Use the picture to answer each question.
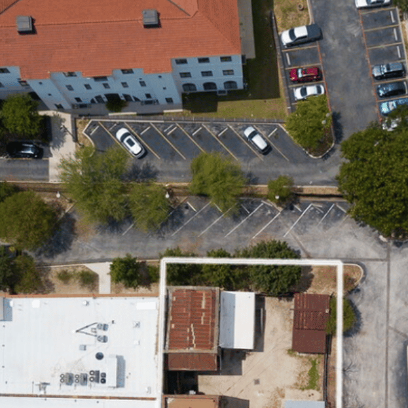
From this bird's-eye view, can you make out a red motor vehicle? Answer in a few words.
Yes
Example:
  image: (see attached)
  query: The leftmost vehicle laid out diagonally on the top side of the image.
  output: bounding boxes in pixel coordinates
[115,127,146,160]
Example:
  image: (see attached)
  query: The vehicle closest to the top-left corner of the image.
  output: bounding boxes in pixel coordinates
[7,142,44,158]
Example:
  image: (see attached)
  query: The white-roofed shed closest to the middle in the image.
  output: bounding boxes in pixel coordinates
[220,291,255,349]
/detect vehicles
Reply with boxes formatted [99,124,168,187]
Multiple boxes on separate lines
[7,142,44,158]
[115,127,146,160]
[355,0,390,9]
[242,126,271,156]
[370,62,406,81]
[378,97,408,116]
[293,83,326,101]
[374,80,408,97]
[289,65,322,84]
[280,26,322,47]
